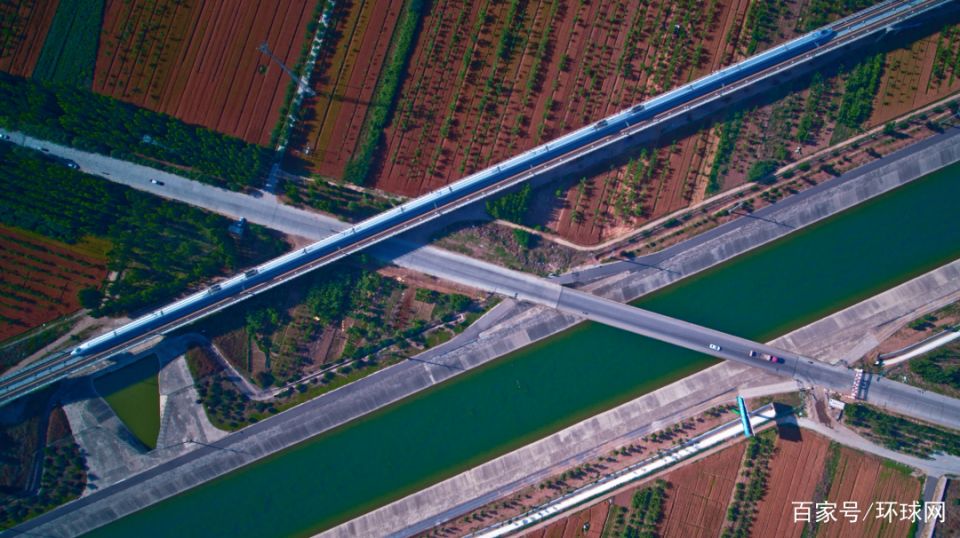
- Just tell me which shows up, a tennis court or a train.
train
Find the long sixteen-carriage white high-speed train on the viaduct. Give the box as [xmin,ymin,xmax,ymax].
[79,30,831,353]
